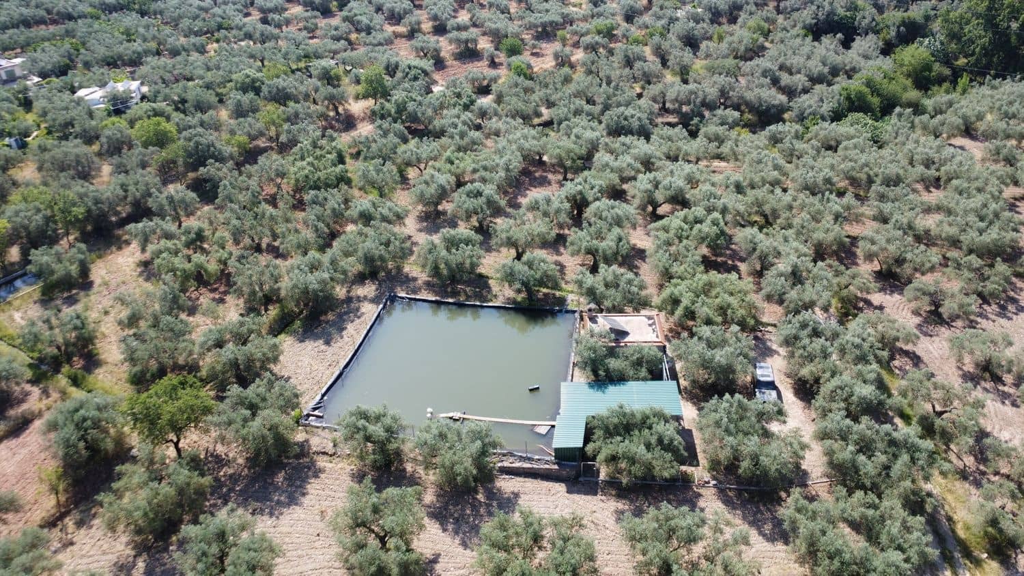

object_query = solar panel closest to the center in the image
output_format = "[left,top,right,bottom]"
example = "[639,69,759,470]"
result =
[600,316,630,341]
